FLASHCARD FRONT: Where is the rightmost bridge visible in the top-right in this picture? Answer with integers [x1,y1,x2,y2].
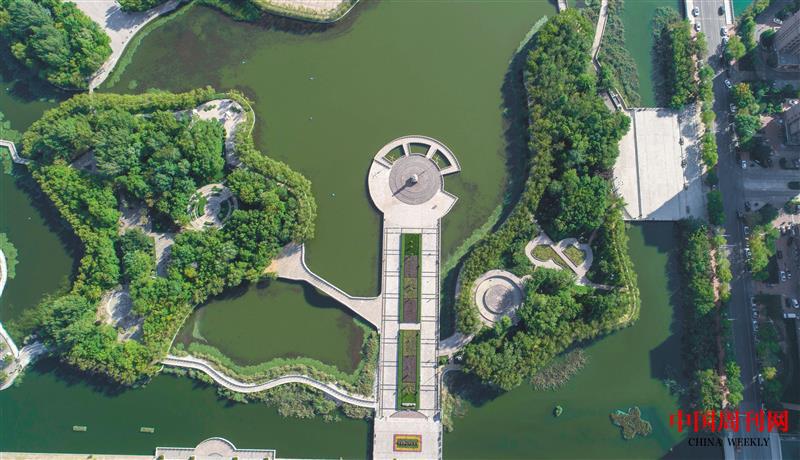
[685,0,734,23]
